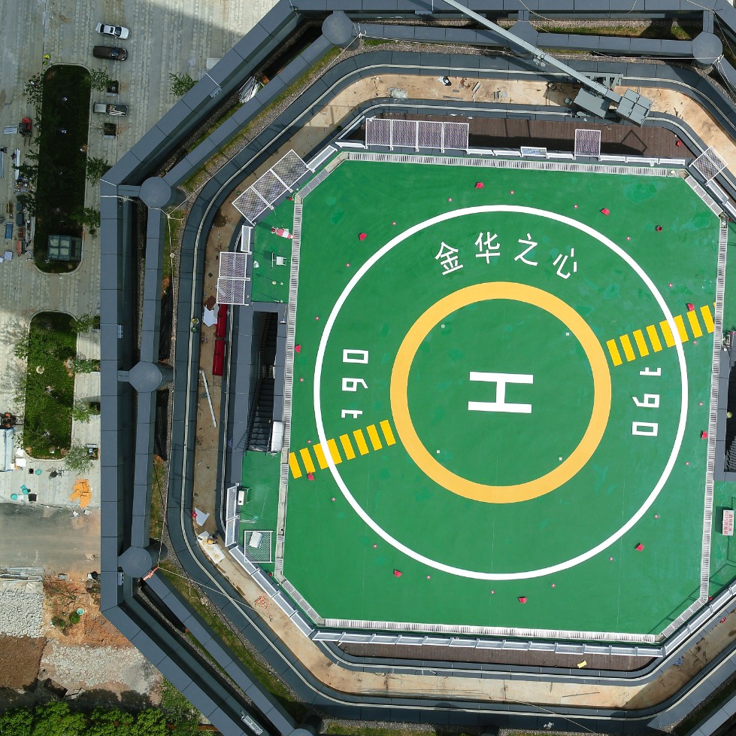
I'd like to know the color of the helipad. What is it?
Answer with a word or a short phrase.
green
